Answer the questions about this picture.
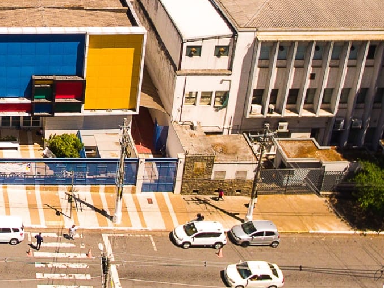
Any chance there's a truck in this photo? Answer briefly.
No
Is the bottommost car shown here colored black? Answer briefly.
No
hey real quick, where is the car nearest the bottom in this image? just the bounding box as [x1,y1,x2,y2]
[223,259,288,288]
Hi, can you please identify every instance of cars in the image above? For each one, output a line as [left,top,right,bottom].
[172,217,230,246]
[229,219,284,245]
[223,259,288,288]
[0,213,25,242]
